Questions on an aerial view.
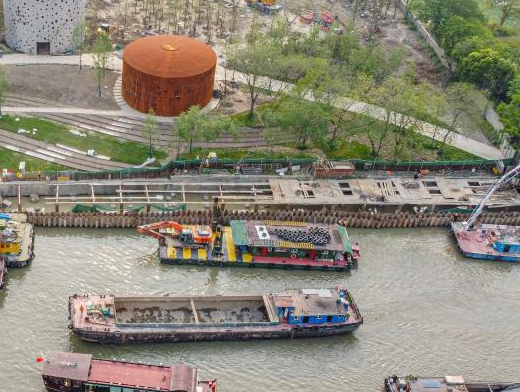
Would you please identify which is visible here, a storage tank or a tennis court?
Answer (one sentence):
There is a storage tank in the scene.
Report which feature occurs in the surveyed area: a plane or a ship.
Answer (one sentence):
There is a ship in the scene.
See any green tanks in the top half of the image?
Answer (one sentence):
No, no green tank is visible in the top half of the image.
